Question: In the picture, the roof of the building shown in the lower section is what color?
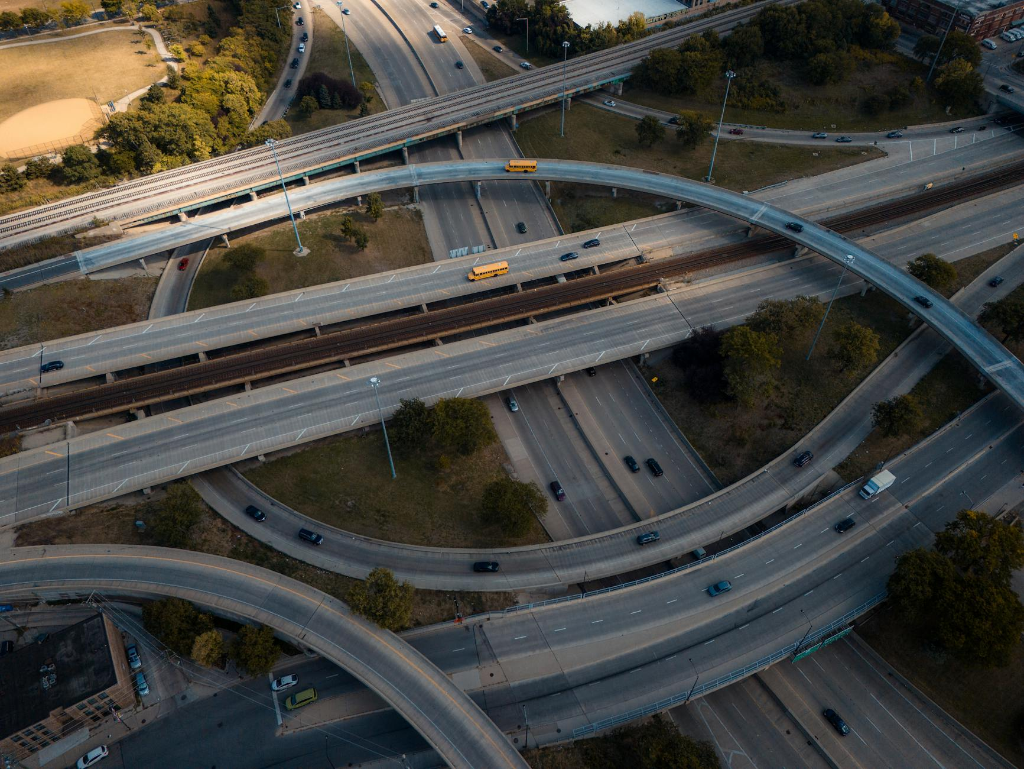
black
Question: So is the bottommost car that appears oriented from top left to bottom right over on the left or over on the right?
right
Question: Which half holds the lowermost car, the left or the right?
left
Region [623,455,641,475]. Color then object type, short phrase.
black car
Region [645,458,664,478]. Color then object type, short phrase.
black car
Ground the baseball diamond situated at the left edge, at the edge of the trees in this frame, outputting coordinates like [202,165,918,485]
[0,99,101,158]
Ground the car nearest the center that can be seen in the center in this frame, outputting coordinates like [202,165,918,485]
[505,396,520,414]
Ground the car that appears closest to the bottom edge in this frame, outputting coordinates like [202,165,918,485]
[76,741,113,769]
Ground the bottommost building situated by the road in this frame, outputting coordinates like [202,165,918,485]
[0,613,136,769]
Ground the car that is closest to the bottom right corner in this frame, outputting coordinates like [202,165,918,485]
[822,707,853,739]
